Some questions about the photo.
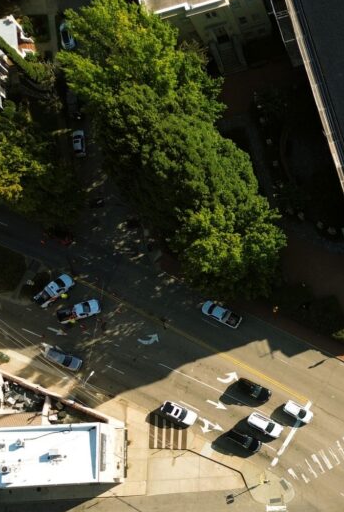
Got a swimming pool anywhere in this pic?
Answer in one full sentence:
No, this view has no swimming pool in it.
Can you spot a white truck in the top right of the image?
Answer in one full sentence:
No, I see no white truck in the top right of the image.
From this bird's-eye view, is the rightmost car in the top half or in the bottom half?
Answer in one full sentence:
The rightmost car sits in the bottom half of the picture.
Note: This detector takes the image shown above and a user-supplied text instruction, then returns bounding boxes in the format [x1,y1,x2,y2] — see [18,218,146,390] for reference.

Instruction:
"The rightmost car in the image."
[280,398,316,426]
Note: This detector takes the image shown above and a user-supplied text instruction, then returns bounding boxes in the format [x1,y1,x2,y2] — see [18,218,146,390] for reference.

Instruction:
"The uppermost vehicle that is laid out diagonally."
[29,272,79,311]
